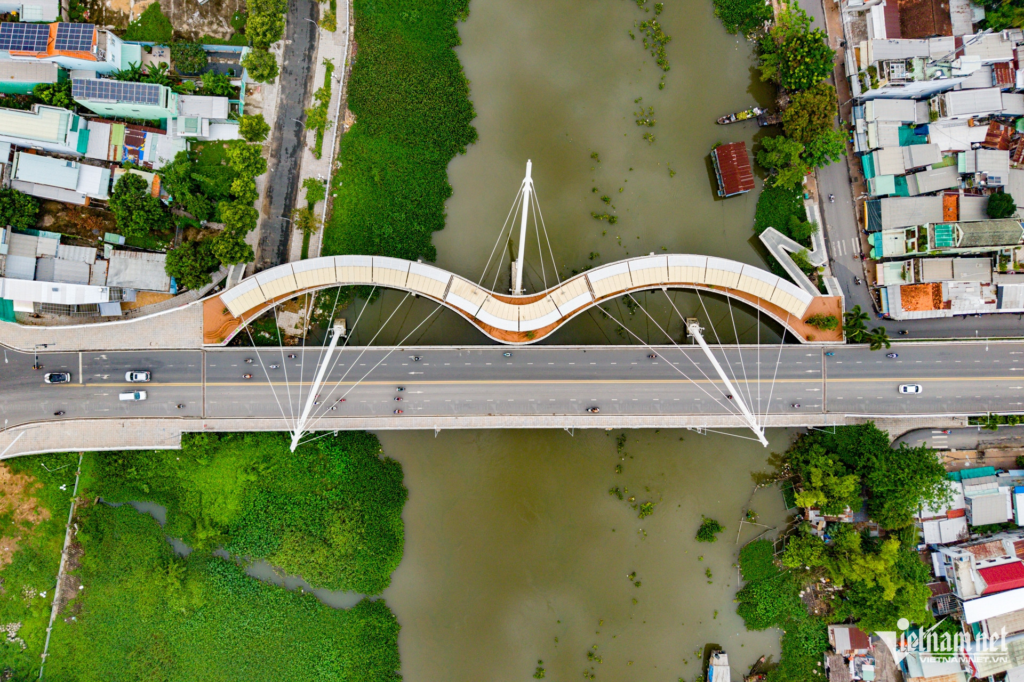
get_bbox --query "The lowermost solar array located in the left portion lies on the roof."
[73,79,159,104]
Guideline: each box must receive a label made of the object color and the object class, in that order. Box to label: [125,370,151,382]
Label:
white vehicle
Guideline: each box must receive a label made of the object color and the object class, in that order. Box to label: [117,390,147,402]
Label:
white vehicle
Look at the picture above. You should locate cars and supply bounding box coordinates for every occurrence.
[44,372,71,384]
[125,370,151,382]
[899,384,922,395]
[117,390,147,402]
